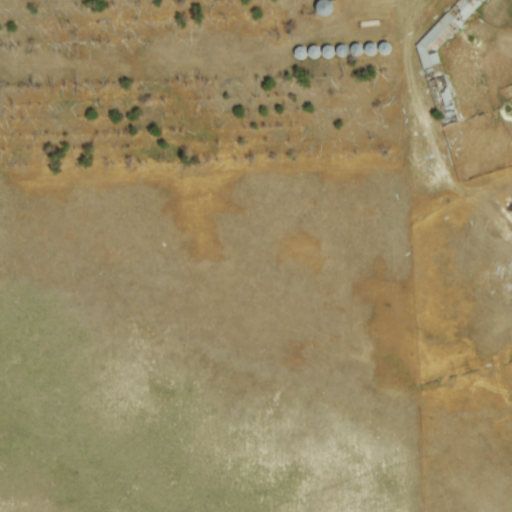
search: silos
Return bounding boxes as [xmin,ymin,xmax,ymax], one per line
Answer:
[294,46,308,60]
[316,0,334,18]
[322,45,335,60]
[364,42,378,56]
[350,42,364,57]
[378,42,392,56]
[308,46,322,60]
[336,44,349,58]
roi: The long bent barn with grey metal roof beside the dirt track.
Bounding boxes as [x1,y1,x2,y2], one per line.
[416,3,466,69]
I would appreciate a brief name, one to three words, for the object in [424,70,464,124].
building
